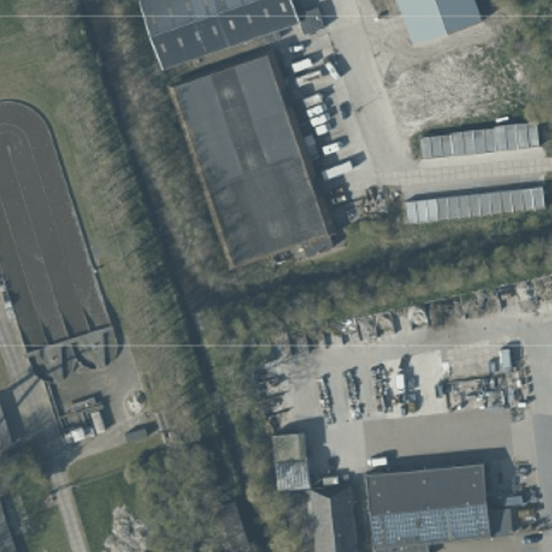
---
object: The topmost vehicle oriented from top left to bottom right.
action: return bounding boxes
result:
[322,60,341,82]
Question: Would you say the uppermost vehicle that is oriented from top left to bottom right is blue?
No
